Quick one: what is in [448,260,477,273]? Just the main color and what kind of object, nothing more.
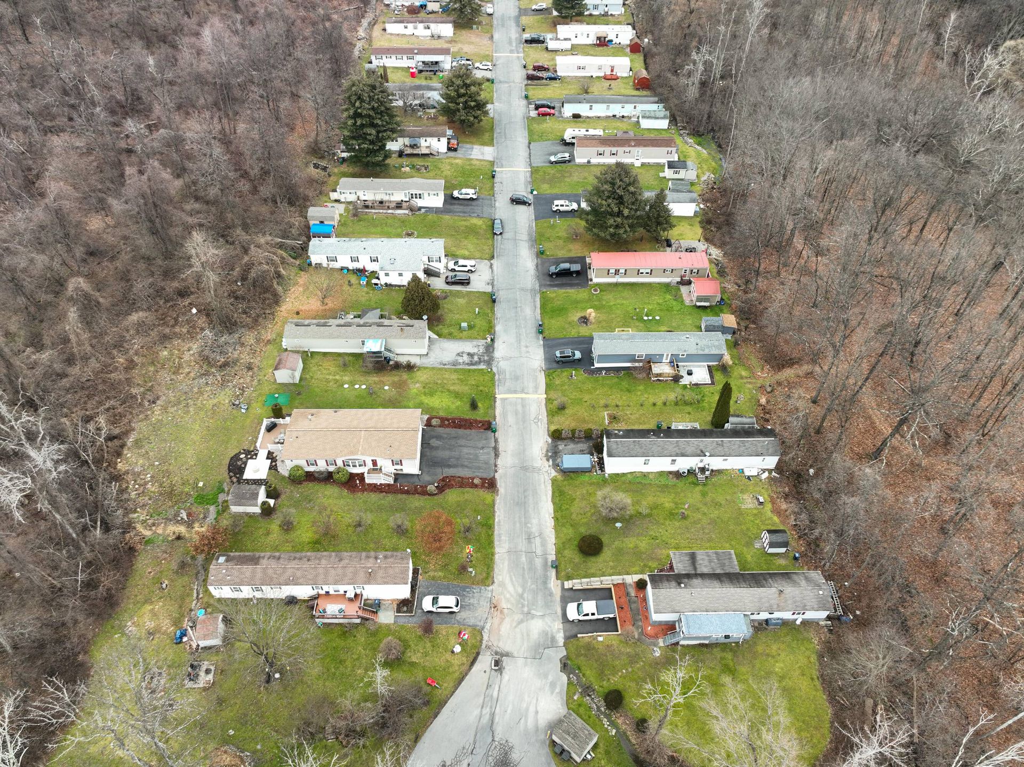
white vehicle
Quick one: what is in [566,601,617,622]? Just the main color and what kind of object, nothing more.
white truck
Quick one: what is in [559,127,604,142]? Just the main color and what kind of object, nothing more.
white vehicle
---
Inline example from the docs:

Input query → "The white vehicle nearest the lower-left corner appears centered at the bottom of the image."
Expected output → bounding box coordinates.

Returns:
[422,593,461,613]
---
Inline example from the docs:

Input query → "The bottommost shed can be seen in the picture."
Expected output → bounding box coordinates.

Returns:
[552,709,600,764]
